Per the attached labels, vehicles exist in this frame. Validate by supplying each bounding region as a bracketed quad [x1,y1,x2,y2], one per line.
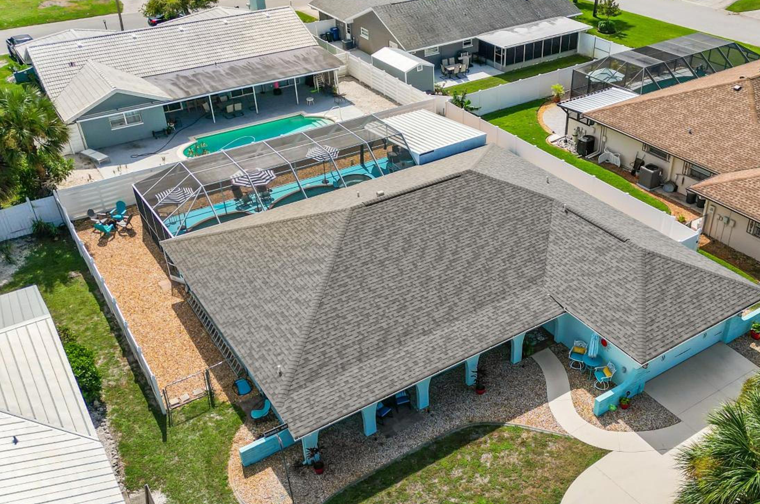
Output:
[1,28,27,55]
[143,6,191,24]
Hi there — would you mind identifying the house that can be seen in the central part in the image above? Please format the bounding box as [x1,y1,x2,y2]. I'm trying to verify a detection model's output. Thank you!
[161,133,760,466]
